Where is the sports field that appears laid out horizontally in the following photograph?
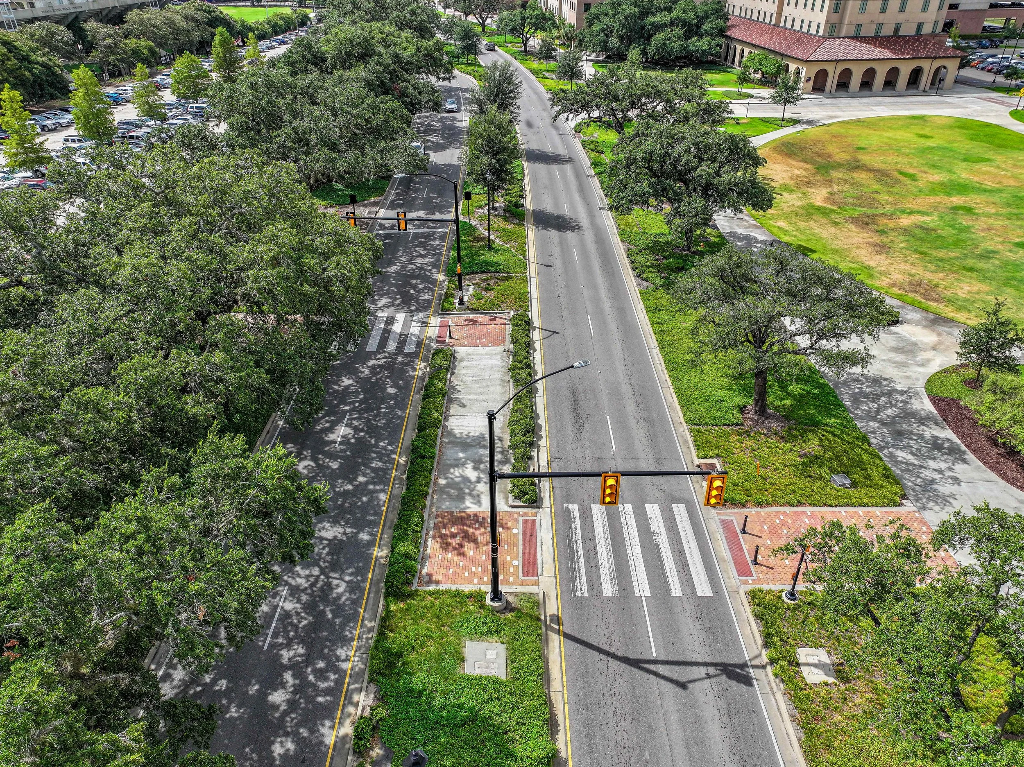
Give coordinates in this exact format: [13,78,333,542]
[224,3,285,23]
